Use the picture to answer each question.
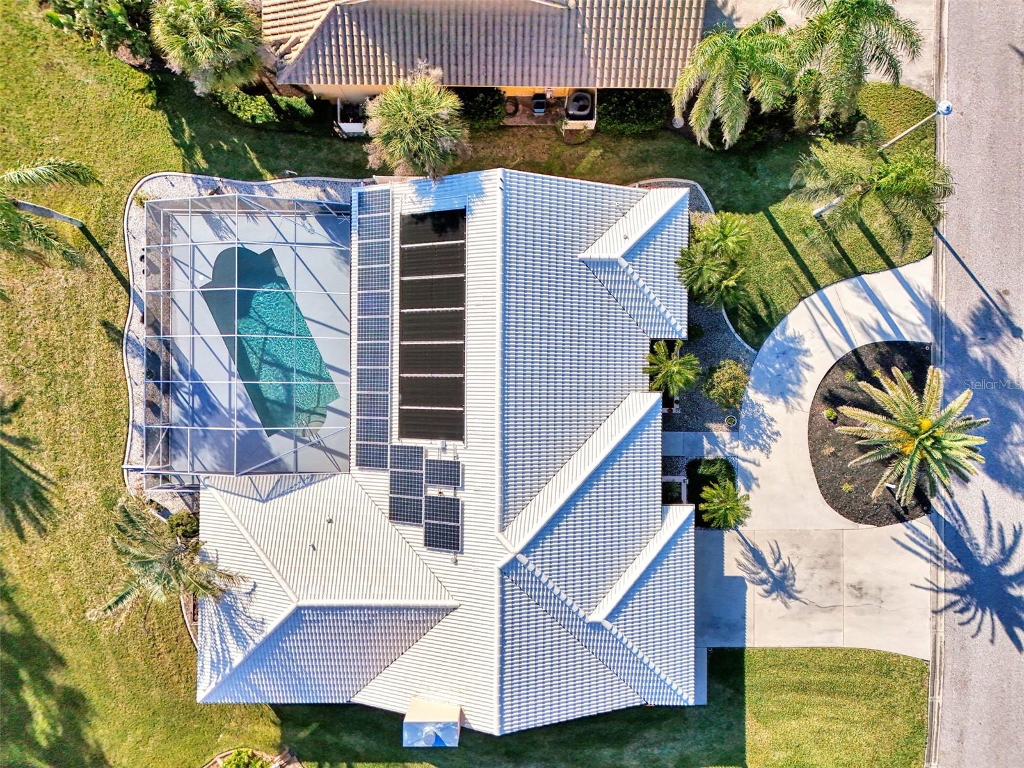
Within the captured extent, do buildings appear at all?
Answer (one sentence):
Yes, looking at the shot, I can spot a building.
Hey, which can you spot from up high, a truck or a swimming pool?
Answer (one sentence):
I can see a swimming pool in this picture.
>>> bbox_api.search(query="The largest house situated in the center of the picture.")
[196,167,698,749]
